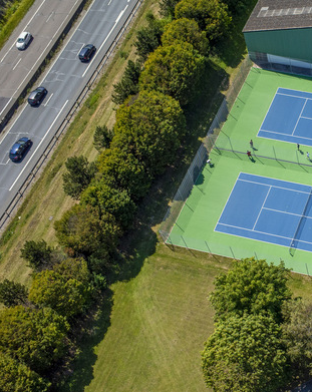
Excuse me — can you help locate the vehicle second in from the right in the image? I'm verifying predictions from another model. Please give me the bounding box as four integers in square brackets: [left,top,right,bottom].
[27,86,49,109]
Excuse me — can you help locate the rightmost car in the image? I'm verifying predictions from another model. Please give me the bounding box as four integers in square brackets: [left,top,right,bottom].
[76,44,97,65]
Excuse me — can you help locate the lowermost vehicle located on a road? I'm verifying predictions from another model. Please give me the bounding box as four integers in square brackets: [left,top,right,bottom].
[9,138,33,163]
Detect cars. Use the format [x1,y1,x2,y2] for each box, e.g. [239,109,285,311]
[16,32,33,50]
[27,86,49,109]
[76,44,97,65]
[9,138,33,163]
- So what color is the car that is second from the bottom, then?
black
